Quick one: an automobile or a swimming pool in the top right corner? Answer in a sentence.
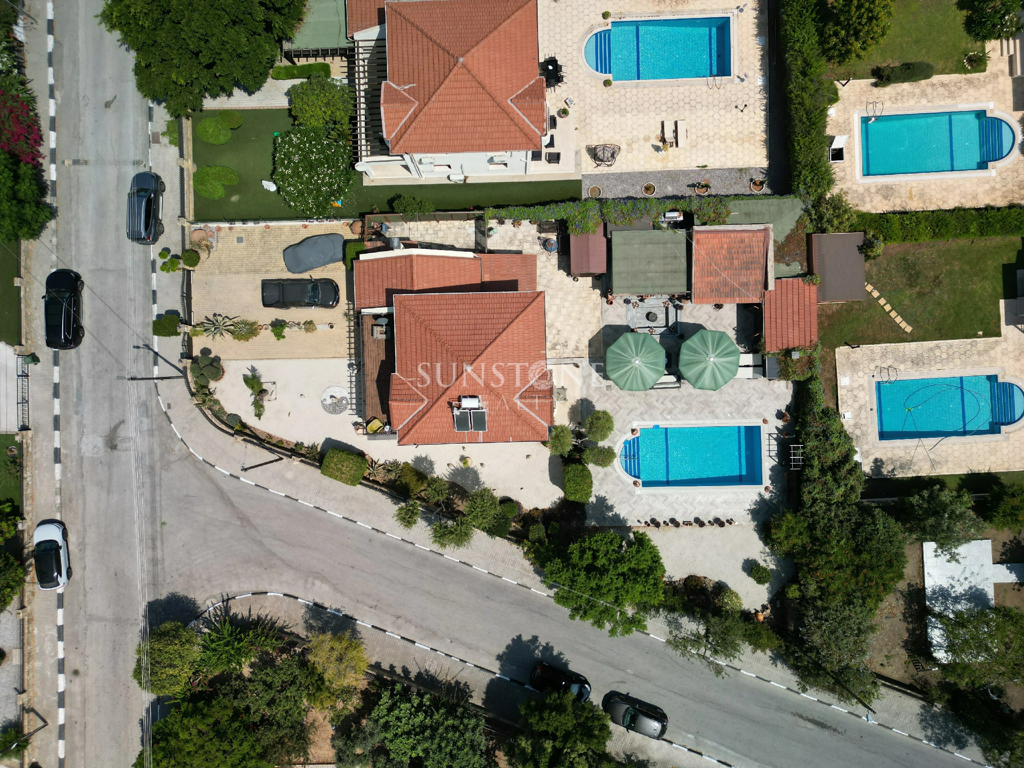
The feature located in the top right corner is a swimming pool.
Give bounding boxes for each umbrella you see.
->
[677,330,738,390]
[606,333,663,390]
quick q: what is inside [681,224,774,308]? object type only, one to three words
building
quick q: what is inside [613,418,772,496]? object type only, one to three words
swimming pool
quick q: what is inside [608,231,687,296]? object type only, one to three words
house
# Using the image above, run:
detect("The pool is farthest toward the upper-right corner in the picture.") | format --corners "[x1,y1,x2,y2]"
[853,101,1023,185]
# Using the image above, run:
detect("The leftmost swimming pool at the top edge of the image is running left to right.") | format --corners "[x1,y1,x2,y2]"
[577,8,741,89]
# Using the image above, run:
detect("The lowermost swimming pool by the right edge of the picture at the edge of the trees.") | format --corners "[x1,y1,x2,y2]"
[868,365,1024,449]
